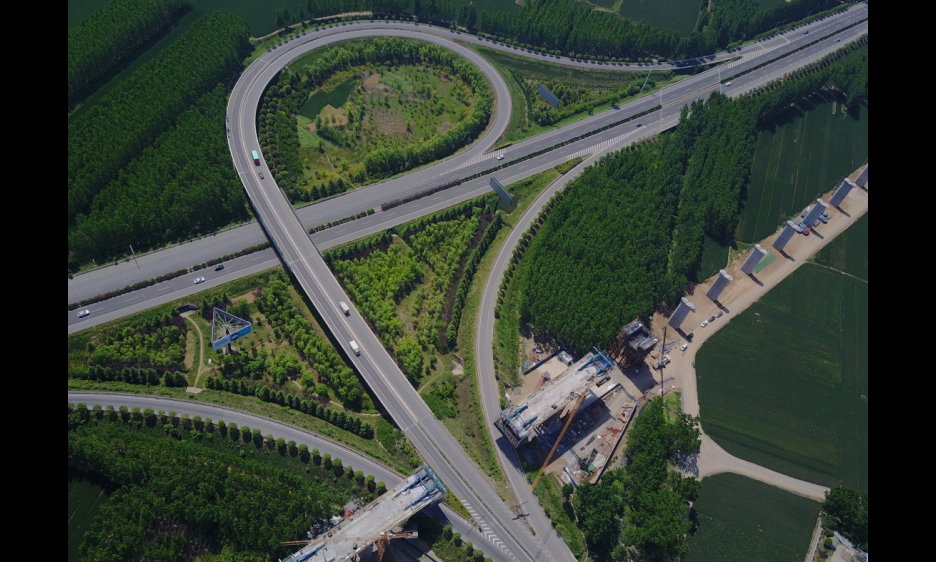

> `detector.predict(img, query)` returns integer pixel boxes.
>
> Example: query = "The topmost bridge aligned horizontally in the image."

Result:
[654,67,744,114]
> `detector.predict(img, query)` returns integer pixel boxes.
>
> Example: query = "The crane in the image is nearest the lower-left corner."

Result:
[231,531,418,562]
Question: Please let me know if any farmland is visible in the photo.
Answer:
Yes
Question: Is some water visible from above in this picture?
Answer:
No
